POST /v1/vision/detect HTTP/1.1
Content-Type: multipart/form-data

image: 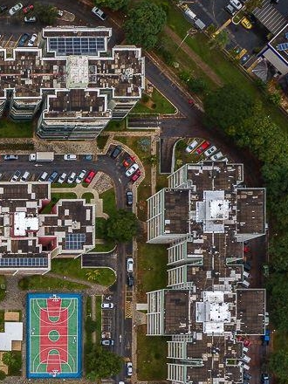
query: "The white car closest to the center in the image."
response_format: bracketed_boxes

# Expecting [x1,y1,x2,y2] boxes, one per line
[125,163,139,177]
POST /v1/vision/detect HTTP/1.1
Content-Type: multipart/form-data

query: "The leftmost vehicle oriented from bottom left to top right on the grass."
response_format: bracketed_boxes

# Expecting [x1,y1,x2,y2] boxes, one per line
[109,141,122,157]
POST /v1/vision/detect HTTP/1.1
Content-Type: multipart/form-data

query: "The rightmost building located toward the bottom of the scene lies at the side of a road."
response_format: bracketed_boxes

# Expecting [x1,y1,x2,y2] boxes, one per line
[143,160,265,384]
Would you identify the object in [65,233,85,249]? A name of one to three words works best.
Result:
solar array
